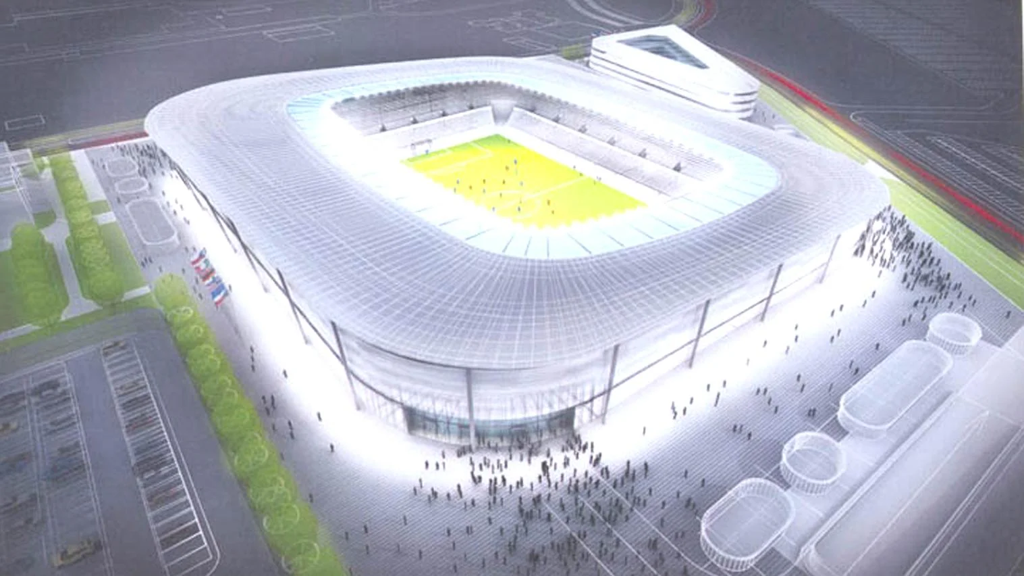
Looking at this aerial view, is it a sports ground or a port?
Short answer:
sports ground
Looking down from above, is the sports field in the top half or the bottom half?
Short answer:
top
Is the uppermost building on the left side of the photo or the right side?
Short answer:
right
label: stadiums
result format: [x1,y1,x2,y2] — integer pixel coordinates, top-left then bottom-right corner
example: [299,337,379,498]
[155,57,891,450]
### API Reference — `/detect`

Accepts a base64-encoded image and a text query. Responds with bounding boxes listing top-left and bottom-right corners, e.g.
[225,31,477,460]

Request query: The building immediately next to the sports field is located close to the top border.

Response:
[577,26,769,118]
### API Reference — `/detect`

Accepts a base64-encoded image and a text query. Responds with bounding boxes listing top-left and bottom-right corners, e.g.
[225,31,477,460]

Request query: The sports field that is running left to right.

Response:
[382,135,655,228]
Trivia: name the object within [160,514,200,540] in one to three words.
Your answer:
car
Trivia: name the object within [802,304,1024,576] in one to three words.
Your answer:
building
